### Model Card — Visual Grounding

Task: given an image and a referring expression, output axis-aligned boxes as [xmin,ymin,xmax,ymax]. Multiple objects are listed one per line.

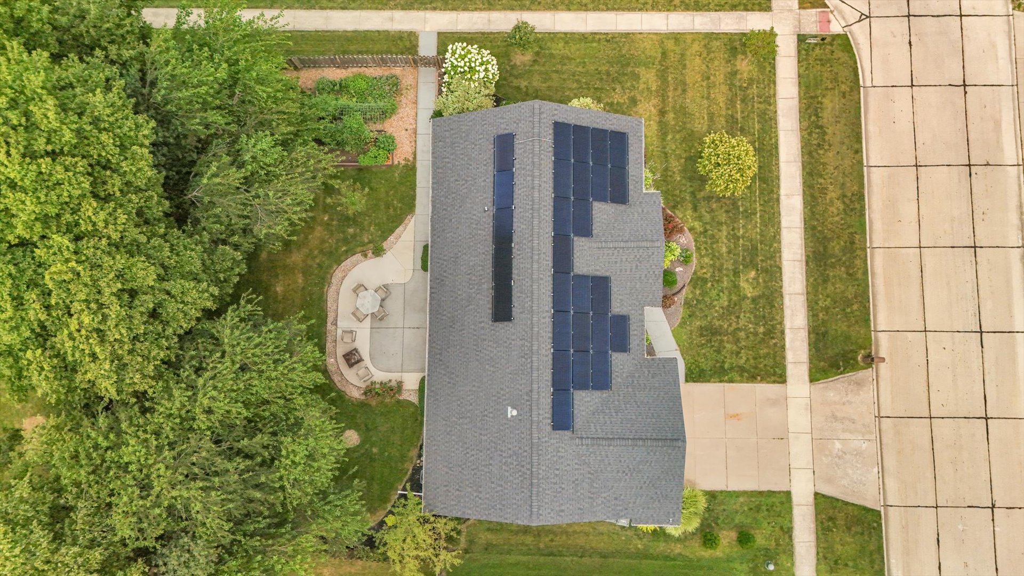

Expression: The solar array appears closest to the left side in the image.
[492,131,518,322]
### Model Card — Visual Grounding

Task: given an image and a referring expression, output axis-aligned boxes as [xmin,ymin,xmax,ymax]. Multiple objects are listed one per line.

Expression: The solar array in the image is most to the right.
[550,123,630,430]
